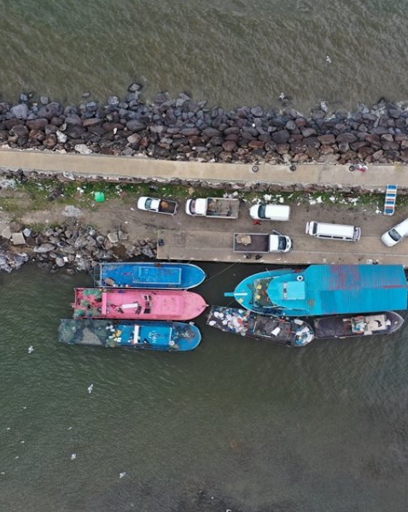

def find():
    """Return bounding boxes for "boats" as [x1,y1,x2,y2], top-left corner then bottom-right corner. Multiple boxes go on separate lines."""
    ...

[224,264,408,315]
[93,263,206,289]
[59,319,202,352]
[74,289,210,321]
[206,306,315,346]
[313,311,405,339]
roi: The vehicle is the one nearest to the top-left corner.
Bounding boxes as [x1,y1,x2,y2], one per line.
[137,195,178,215]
